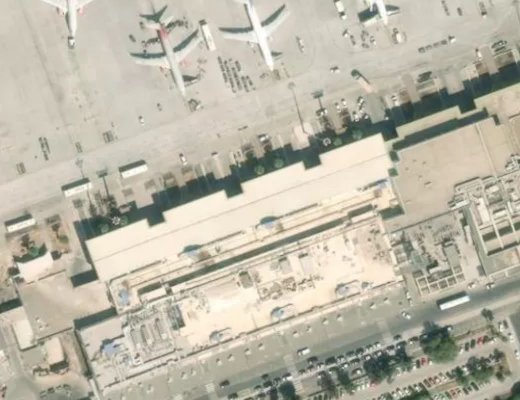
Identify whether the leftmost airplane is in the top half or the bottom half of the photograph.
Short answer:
top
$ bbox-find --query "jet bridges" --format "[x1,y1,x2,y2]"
[352,72,375,94]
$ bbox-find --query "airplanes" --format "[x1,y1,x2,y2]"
[53,0,85,38]
[136,14,201,94]
[224,0,289,69]
[377,0,389,24]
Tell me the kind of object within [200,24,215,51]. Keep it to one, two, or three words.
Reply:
vehicle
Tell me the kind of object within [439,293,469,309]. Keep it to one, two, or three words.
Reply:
vehicle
